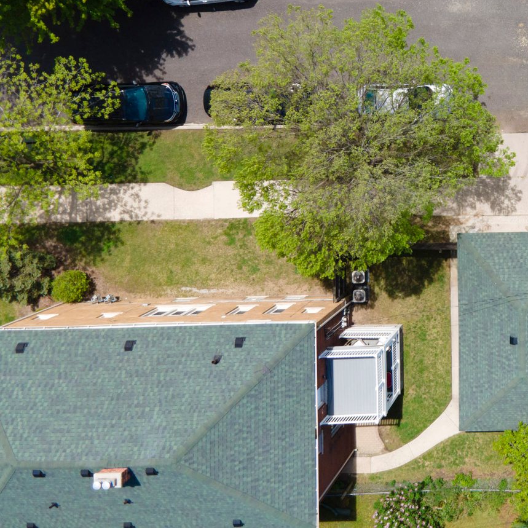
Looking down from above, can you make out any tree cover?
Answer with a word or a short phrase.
Yes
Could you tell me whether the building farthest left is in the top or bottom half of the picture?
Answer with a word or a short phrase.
bottom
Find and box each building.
[457,229,528,433]
[0,297,353,528]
